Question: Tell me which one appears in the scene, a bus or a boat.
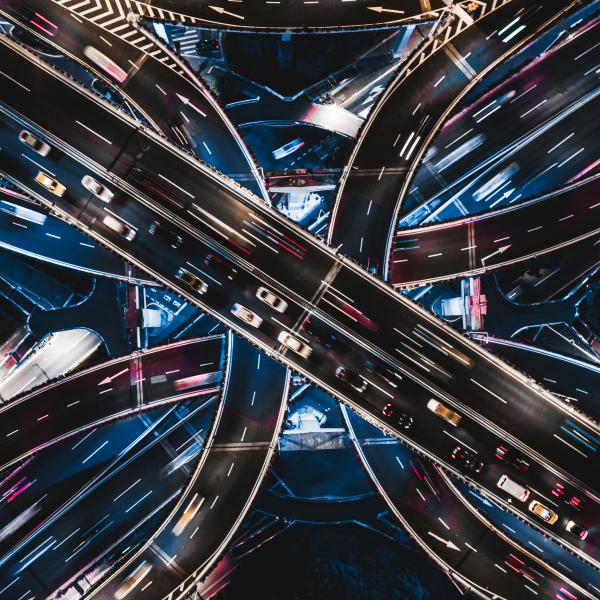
bus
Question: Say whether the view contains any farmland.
No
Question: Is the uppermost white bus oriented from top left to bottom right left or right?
left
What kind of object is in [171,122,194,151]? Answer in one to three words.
car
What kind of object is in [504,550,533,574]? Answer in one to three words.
car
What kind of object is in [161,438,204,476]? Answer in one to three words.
bus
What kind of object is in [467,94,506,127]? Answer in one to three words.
bus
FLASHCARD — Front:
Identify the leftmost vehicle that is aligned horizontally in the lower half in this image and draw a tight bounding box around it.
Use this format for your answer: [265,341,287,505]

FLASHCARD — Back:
[175,368,224,393]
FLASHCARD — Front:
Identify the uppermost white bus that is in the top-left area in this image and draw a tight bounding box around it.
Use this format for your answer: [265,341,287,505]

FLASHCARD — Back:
[83,45,132,88]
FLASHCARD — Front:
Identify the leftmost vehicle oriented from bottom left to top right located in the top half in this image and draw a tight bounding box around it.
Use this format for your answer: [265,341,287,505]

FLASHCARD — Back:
[270,137,305,165]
